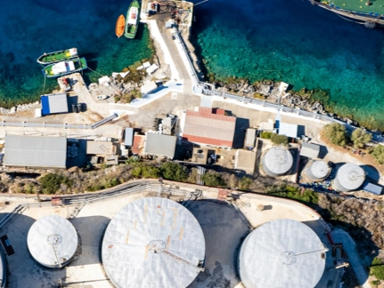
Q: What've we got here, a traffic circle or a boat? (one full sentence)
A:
It is a boat that can be seen here.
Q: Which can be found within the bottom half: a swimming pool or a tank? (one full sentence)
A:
You can see a tank within the bottom half.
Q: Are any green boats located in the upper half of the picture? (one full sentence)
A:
Yes, a green boat is visible in the upper half of the picture.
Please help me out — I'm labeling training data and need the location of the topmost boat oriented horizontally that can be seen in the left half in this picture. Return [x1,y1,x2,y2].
[37,47,79,63]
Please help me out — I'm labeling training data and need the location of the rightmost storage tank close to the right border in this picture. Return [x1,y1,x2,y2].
[333,162,366,193]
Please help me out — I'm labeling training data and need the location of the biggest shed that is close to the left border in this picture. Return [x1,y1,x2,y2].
[4,136,67,169]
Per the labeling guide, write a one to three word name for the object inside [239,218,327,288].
storage tank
